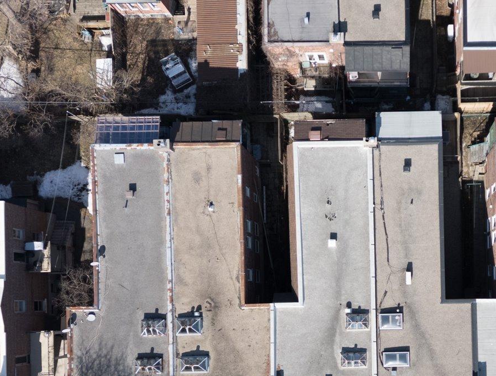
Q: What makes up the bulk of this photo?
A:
buildings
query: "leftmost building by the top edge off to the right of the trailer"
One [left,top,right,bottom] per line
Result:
[197,0,256,120]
